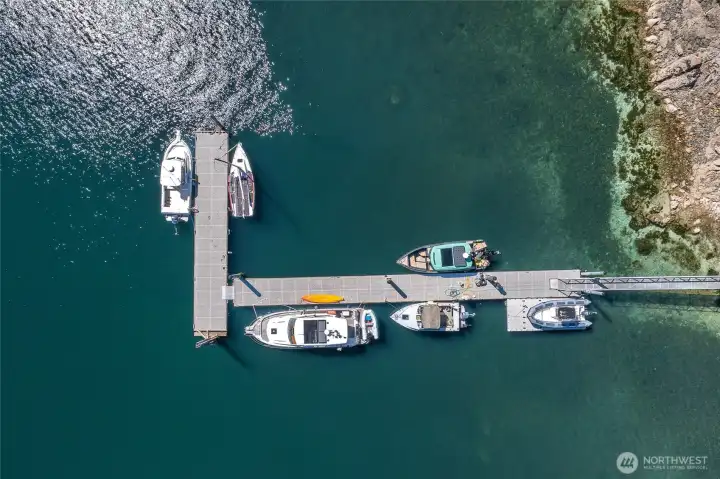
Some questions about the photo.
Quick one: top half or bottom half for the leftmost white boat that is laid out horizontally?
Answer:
bottom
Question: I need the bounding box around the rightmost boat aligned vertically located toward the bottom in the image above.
[362,309,379,346]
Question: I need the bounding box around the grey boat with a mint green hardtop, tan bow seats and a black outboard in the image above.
[397,241,499,274]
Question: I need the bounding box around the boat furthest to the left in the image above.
[161,129,194,230]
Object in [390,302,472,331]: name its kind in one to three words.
boat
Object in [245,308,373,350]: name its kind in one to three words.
boat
